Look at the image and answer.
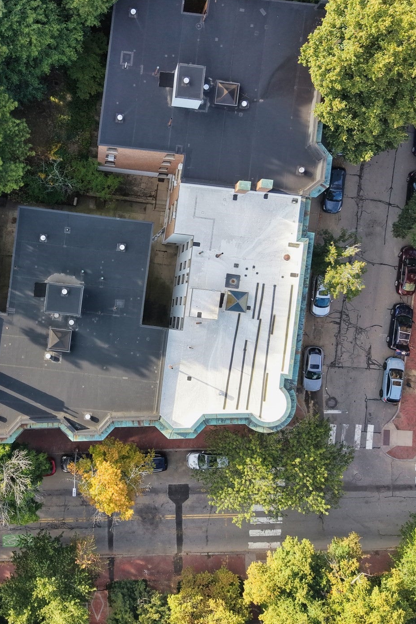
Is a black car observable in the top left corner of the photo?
No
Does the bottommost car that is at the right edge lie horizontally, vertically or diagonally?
vertically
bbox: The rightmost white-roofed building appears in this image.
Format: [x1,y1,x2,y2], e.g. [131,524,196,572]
[153,155,313,438]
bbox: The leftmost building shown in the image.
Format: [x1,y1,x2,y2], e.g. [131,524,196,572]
[0,205,167,442]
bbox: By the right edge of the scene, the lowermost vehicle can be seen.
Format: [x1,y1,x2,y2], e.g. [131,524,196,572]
[381,356,406,402]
